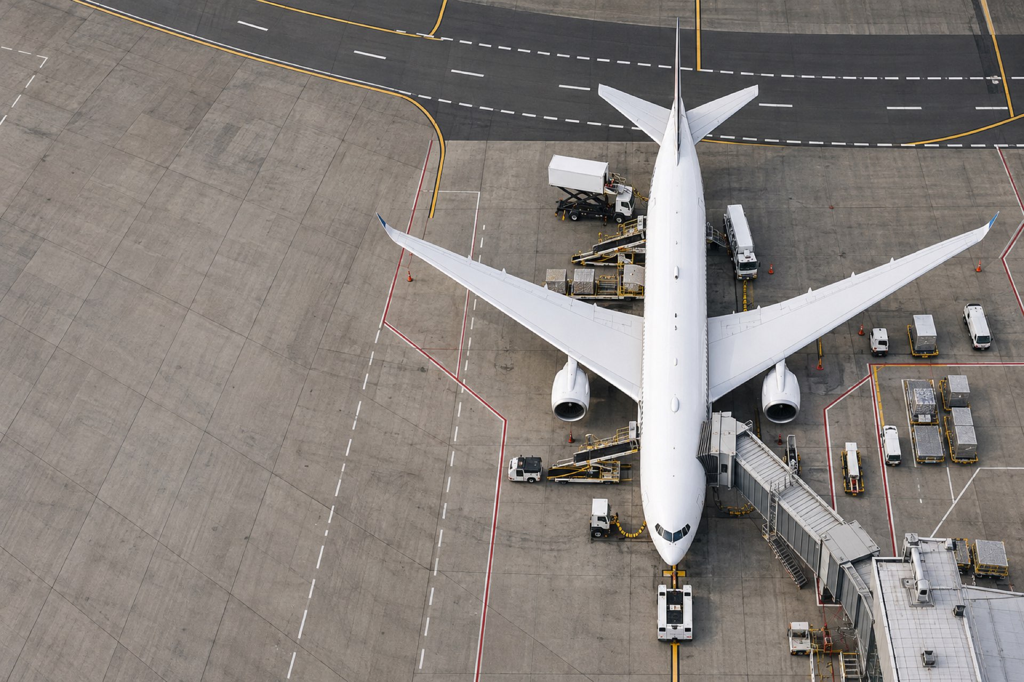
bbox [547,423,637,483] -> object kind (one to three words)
work vehicle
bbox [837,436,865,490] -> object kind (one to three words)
trailer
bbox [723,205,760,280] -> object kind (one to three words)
truck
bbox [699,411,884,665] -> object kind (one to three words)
jet bridge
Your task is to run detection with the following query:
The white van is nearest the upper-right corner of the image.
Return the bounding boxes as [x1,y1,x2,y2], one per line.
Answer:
[962,301,994,348]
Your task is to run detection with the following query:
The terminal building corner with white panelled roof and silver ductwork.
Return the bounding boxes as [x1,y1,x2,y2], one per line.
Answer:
[872,526,1024,682]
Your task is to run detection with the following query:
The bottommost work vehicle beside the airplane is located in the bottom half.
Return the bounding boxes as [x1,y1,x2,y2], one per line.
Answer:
[658,586,692,642]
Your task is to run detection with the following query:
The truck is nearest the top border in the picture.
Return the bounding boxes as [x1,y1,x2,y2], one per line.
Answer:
[549,151,639,220]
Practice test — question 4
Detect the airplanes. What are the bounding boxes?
[378,20,998,564]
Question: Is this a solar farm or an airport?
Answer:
airport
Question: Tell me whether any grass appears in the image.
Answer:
No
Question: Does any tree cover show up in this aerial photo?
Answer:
No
